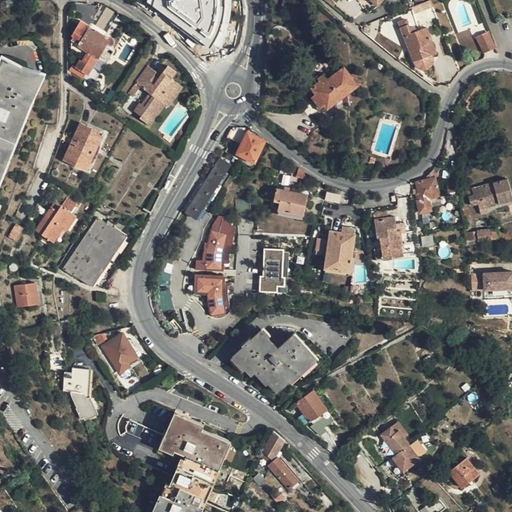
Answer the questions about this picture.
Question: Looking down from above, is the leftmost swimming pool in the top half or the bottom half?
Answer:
top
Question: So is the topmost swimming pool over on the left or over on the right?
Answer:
right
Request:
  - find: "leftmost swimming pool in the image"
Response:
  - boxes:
[113,34,138,66]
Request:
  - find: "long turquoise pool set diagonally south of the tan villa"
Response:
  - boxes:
[158,102,186,143]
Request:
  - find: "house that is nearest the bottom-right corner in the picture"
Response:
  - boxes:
[451,458,480,490]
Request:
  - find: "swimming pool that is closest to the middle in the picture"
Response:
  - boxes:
[351,264,368,284]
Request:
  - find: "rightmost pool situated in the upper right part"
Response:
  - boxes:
[450,0,486,34]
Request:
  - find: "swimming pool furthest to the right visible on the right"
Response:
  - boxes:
[484,298,512,316]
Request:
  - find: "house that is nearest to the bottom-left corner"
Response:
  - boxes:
[63,368,99,420]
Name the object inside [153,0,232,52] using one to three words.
building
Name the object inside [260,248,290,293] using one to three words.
building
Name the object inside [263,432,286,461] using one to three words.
house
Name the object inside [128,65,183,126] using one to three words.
house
